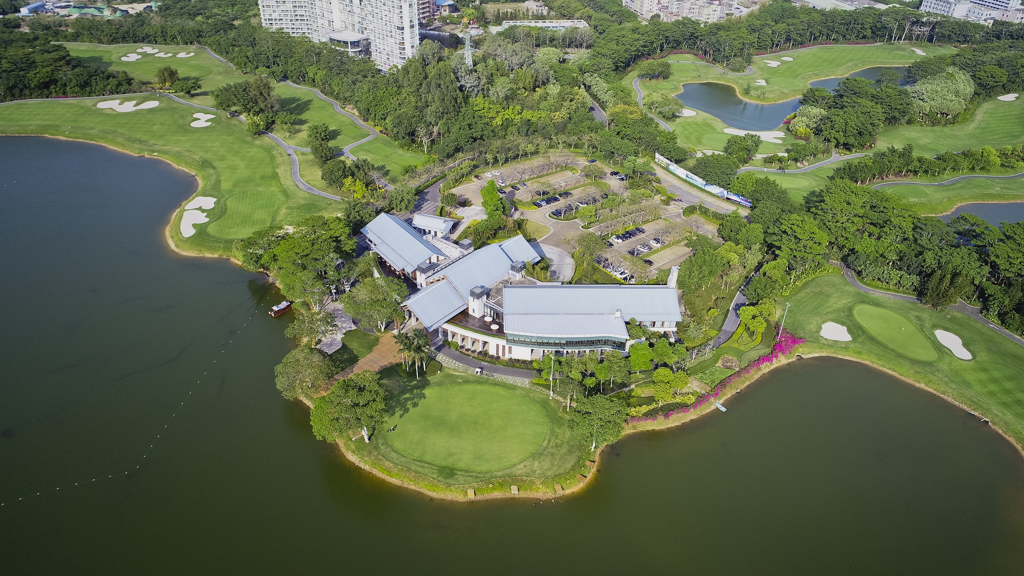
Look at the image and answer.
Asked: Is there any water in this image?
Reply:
Yes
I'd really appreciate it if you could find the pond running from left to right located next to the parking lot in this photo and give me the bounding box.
[673,66,918,131]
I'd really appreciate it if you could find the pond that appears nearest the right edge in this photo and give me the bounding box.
[926,201,1024,252]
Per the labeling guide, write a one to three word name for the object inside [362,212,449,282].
building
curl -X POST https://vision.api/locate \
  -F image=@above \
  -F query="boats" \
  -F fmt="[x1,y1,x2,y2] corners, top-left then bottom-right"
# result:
[715,401,726,412]
[268,301,292,317]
